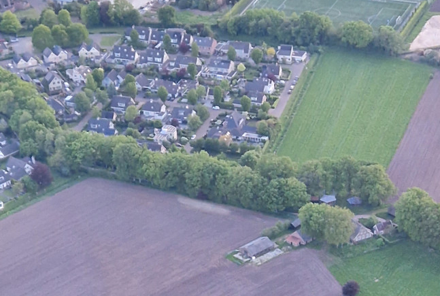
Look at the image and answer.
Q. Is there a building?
Yes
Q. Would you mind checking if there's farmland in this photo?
Yes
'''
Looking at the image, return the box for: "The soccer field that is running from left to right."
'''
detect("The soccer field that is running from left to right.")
[244,0,414,36]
